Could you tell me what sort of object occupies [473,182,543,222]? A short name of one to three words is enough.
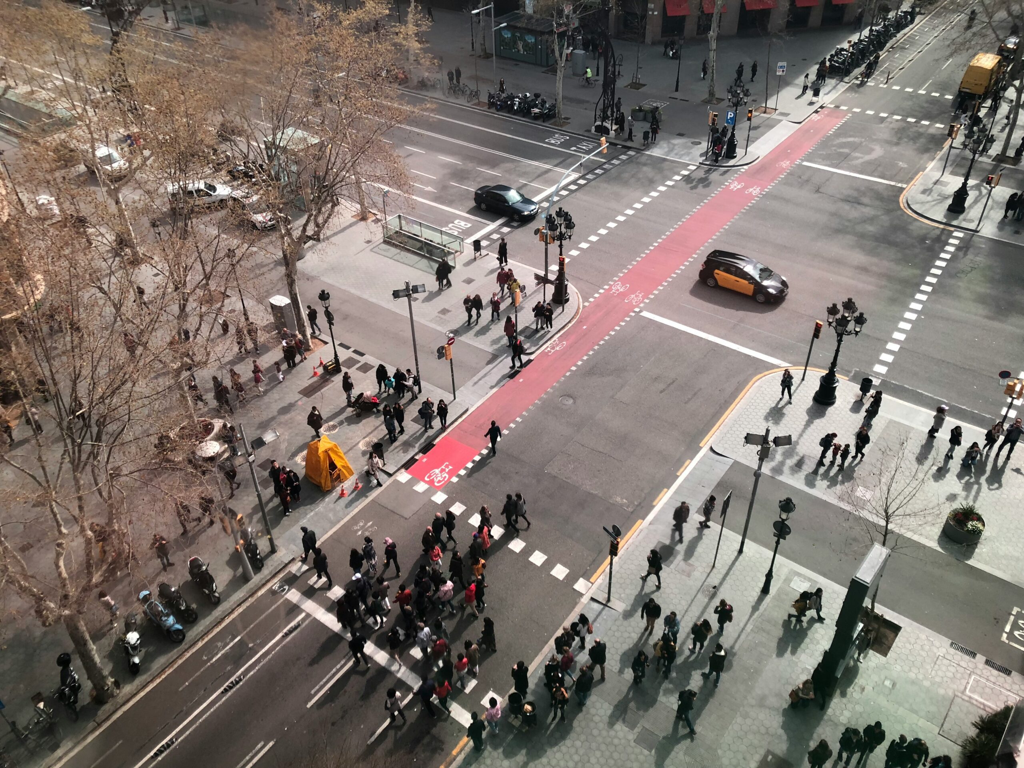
car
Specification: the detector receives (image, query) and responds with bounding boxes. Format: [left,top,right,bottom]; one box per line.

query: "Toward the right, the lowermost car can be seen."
[700,244,795,302]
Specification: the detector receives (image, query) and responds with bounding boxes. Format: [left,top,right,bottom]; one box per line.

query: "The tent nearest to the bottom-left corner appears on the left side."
[305,427,358,491]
